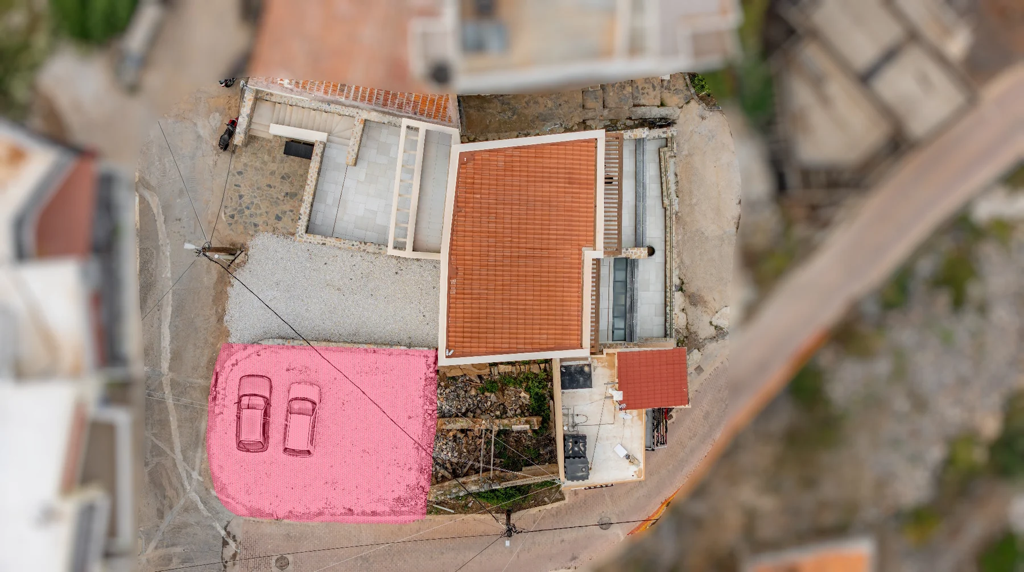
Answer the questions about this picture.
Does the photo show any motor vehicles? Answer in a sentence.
Yes, a motor vehicle is visible in the scene.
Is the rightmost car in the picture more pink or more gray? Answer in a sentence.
From above, the rightmost car appears pink.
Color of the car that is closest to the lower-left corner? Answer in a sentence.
The car that is closest to the lower-left corner looks pink in the image.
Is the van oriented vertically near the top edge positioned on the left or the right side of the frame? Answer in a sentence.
The van oriented vertically near the top edge appears in the left half of the scene.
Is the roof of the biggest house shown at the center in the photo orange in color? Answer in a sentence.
Yes, the roof of the biggest house shown at the center is orange.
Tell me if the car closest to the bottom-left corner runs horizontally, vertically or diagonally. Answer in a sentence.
What the image shows is the car closest to the bottom-left corner lying vertically.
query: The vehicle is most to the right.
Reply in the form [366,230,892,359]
[282,380,323,459]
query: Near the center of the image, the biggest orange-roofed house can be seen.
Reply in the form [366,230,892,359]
[438,130,605,365]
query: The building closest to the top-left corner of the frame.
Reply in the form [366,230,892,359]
[0,113,107,261]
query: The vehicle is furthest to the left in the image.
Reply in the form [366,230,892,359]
[111,0,167,91]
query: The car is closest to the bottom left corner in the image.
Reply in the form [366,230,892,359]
[232,374,273,453]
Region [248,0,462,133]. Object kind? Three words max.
house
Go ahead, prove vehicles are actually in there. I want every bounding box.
[220,117,239,152]
[111,0,167,91]
[232,374,273,453]
[219,61,248,88]
[282,380,323,459]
